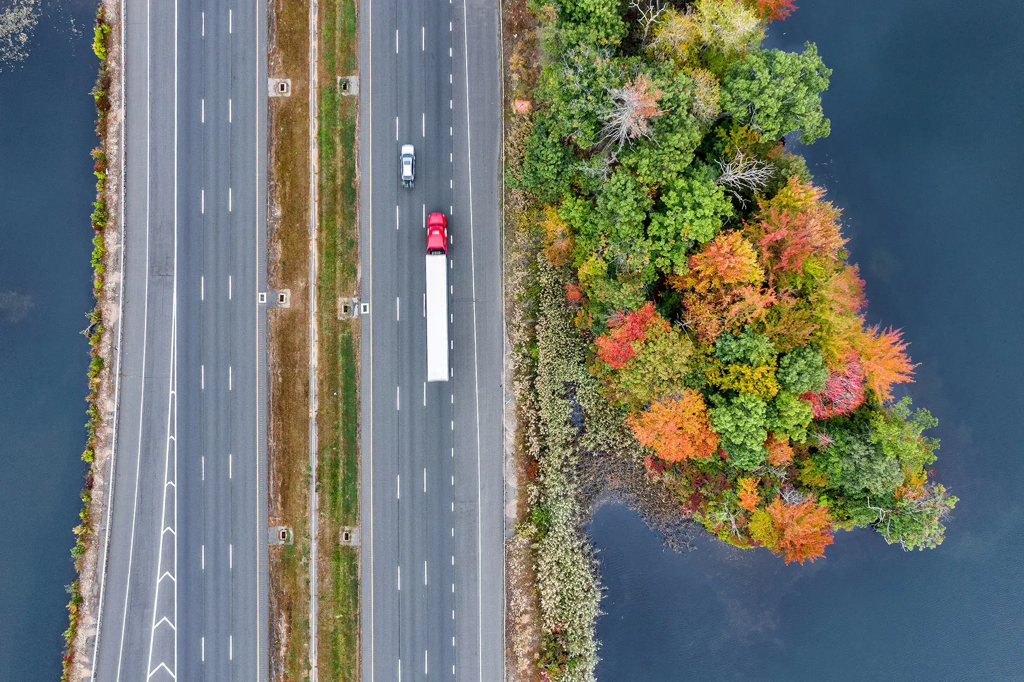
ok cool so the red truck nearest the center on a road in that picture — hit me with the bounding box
[428,213,449,255]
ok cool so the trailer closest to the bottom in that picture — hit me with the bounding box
[427,255,450,382]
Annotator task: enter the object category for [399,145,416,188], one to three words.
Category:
car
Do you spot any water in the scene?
Yes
